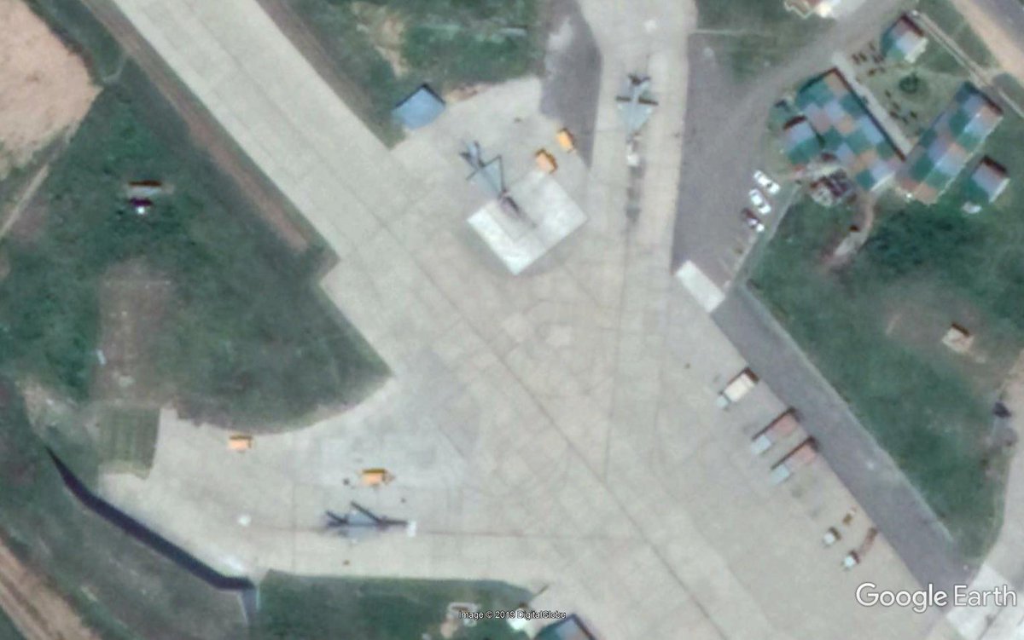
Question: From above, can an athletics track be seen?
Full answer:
No, no athletics track is visible in the view.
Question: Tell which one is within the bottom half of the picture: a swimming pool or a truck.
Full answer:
The one visible within the bottom half of the picture is a truck.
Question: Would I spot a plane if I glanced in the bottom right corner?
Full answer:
No, I can find no plane in the bottom right corner.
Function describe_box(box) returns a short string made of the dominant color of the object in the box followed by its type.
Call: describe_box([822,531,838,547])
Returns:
white work vehicle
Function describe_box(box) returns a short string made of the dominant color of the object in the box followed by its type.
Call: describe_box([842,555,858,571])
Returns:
white work vehicle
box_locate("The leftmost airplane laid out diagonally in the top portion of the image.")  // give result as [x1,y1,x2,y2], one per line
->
[464,148,524,220]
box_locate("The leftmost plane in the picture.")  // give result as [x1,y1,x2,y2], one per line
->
[329,508,414,549]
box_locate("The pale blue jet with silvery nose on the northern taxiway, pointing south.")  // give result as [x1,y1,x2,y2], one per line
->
[614,81,654,165]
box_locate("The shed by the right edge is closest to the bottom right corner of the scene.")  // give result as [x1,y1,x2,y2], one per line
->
[943,326,973,354]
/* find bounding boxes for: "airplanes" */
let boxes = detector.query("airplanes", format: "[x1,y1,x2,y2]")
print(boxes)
[464,148,524,220]
[329,508,414,549]
[614,81,654,165]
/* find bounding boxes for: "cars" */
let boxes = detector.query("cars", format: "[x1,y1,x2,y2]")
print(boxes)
[741,208,764,231]
[749,188,770,214]
[754,169,779,193]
